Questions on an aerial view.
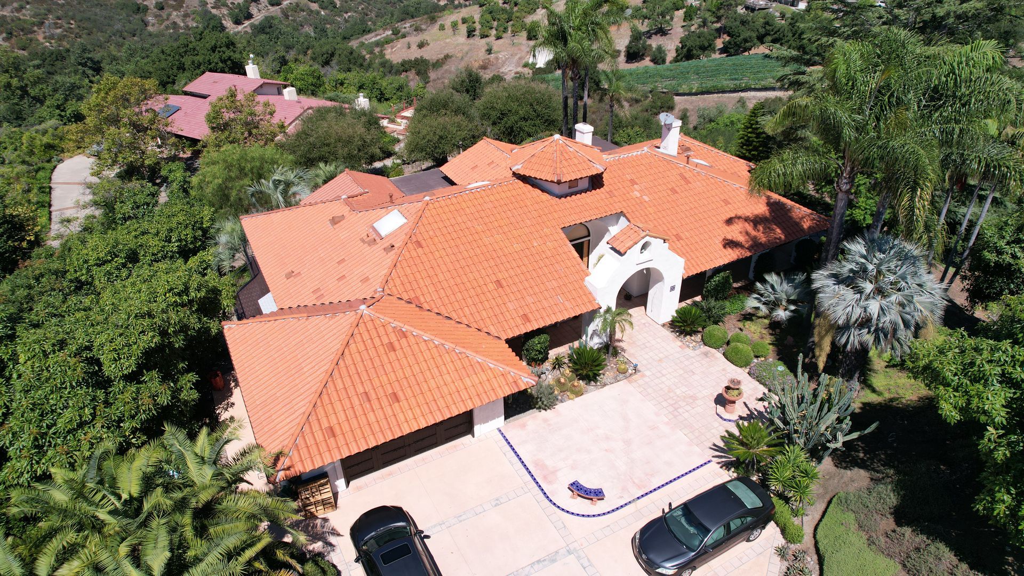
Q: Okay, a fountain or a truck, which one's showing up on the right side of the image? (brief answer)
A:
fountain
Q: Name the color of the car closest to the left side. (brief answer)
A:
black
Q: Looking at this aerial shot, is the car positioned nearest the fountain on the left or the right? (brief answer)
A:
right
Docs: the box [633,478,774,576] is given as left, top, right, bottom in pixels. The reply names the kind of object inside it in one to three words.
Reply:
car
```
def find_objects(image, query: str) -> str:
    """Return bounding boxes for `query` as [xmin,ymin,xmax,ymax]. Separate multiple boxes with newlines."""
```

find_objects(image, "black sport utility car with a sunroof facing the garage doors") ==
[353,504,437,576]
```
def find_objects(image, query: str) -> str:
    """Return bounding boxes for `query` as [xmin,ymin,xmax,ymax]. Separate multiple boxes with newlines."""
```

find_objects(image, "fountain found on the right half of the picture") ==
[715,378,746,423]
